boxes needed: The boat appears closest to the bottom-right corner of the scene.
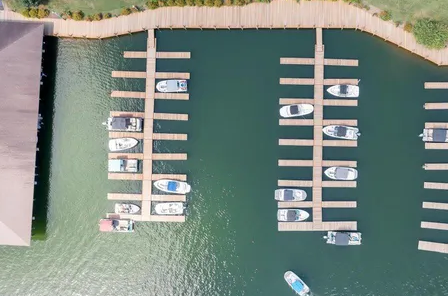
[324,230,361,245]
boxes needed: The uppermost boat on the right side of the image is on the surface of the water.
[327,84,359,97]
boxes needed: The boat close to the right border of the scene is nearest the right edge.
[419,128,448,142]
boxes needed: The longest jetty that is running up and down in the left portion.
[107,28,191,222]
